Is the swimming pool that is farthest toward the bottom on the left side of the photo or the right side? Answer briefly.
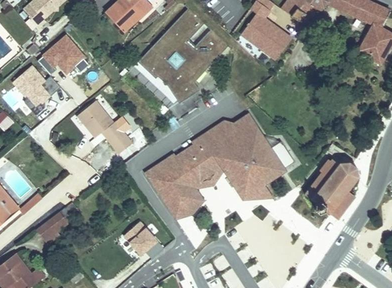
left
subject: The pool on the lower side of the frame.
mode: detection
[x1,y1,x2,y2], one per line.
[0,161,34,204]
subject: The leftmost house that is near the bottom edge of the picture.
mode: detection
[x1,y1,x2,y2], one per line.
[0,253,45,288]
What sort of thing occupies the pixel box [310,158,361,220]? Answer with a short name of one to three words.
building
